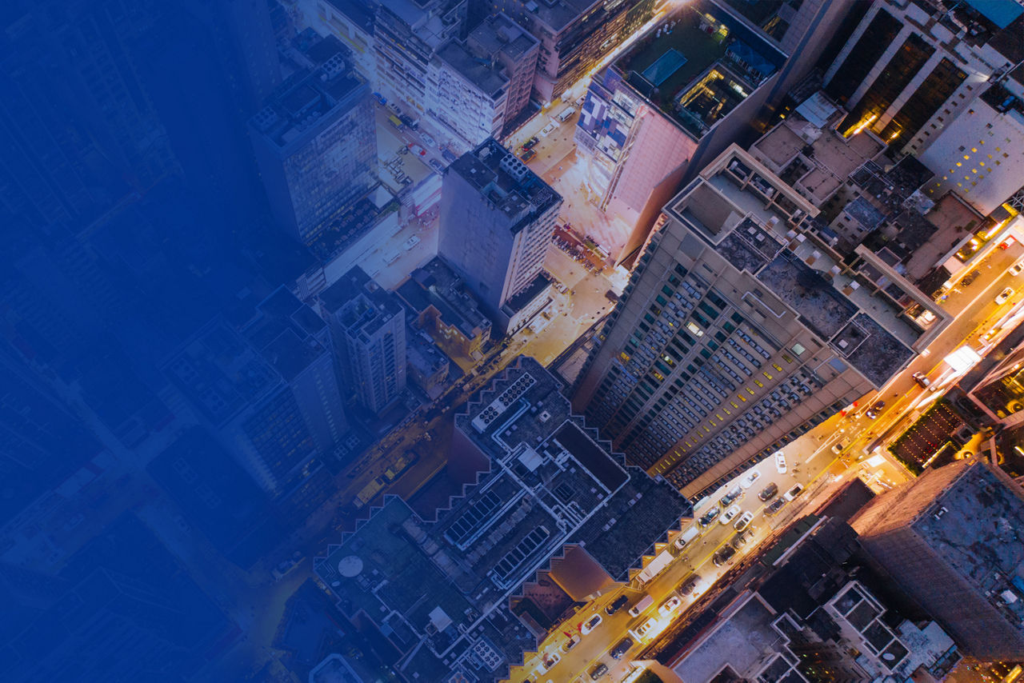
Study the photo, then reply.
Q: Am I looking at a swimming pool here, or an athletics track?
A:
swimming pool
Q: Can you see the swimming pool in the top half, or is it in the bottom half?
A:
top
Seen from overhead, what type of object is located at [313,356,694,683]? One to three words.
building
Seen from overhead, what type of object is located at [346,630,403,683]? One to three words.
building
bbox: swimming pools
[644,50,685,85]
